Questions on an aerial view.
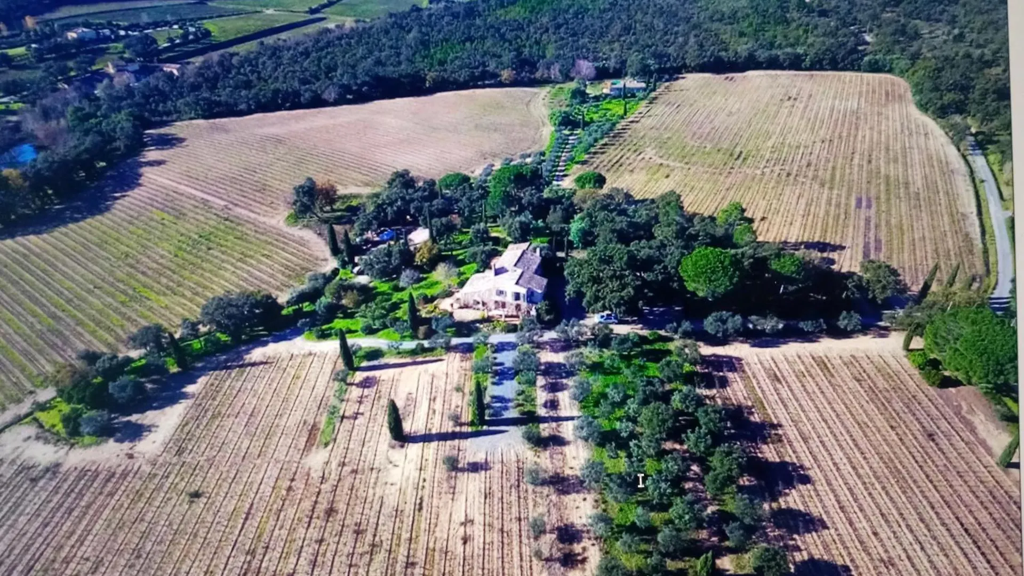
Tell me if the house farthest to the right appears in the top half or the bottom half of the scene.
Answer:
top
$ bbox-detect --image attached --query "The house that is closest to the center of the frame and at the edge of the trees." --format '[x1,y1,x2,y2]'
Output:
[458,245,551,313]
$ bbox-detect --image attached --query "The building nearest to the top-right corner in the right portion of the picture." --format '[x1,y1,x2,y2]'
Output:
[596,75,648,98]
